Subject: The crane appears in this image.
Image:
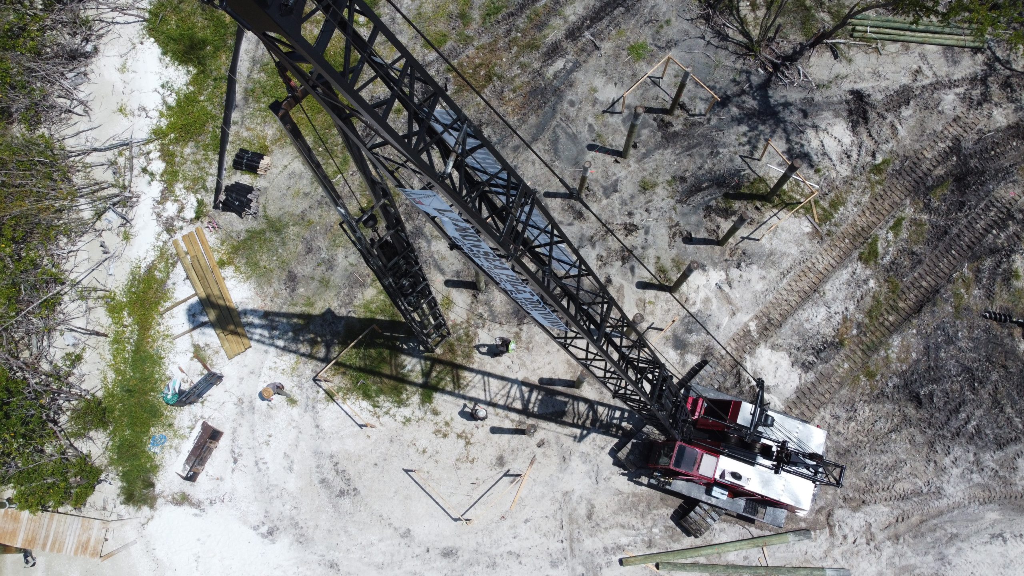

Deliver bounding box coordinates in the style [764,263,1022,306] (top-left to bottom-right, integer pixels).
[222,0,847,540]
